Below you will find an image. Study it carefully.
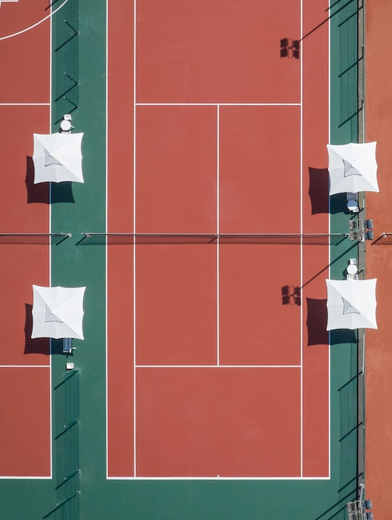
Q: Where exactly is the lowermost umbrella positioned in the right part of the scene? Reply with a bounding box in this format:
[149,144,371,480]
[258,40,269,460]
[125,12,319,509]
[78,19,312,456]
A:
[326,279,377,331]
